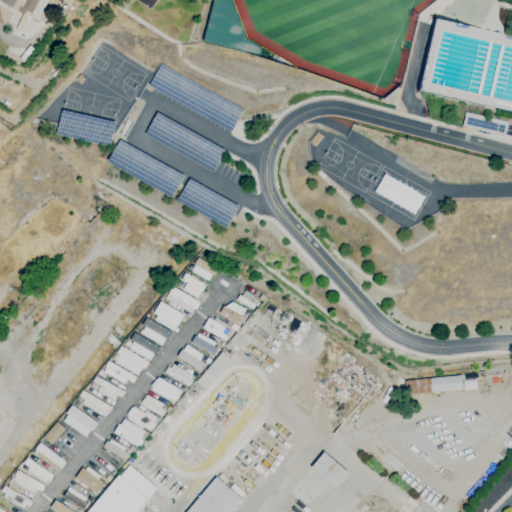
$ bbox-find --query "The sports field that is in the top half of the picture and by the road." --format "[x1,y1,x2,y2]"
[203,0,438,98]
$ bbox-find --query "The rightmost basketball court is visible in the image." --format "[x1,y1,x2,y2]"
[371,166,432,219]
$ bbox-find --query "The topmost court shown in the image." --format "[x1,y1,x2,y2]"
[86,46,149,102]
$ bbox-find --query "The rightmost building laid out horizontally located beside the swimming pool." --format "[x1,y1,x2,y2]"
[464,112,511,137]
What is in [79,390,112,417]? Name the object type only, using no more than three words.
house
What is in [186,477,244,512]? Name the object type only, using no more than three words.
building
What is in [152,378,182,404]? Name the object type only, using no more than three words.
house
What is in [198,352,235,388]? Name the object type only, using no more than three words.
shed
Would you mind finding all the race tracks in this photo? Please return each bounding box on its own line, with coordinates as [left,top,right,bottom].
[160,362,272,480]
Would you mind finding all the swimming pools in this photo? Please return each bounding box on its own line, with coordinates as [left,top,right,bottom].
[420,15,512,112]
